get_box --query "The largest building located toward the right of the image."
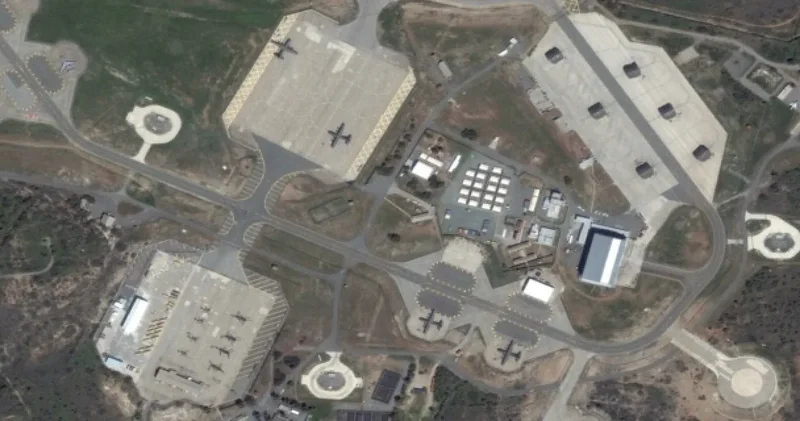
[582,231,626,288]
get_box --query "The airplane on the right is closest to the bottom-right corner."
[498,339,519,365]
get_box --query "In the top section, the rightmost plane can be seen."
[329,122,349,147]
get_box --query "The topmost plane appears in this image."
[273,39,297,59]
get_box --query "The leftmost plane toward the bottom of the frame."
[420,308,441,333]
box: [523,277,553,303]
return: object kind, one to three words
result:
hangar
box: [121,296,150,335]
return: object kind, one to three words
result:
hangar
